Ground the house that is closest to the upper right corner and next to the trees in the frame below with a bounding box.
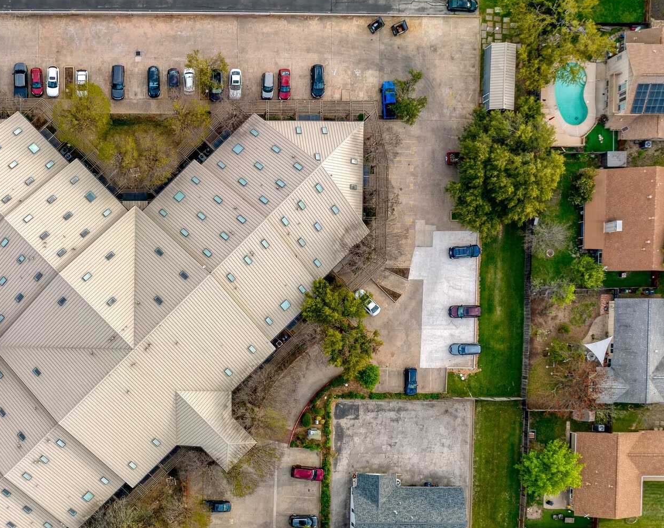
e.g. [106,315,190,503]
[605,24,664,138]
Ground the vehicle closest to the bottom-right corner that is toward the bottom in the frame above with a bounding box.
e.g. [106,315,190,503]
[447,341,480,356]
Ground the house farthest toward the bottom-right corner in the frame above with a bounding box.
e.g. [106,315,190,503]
[573,432,664,521]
